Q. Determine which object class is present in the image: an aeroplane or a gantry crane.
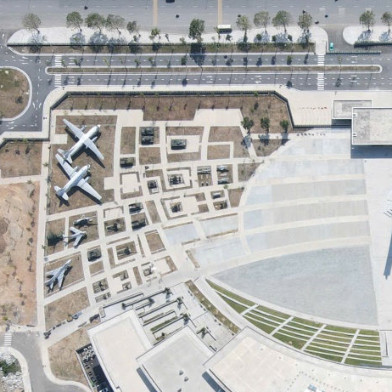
aeroplane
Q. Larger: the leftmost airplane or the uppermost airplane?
the uppermost airplane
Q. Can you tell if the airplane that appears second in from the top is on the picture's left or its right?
left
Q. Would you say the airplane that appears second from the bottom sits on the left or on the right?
left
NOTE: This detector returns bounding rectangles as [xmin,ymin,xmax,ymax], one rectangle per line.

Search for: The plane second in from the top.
[54,154,98,198]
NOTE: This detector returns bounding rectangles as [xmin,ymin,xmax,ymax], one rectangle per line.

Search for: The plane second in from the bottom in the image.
[62,224,85,245]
